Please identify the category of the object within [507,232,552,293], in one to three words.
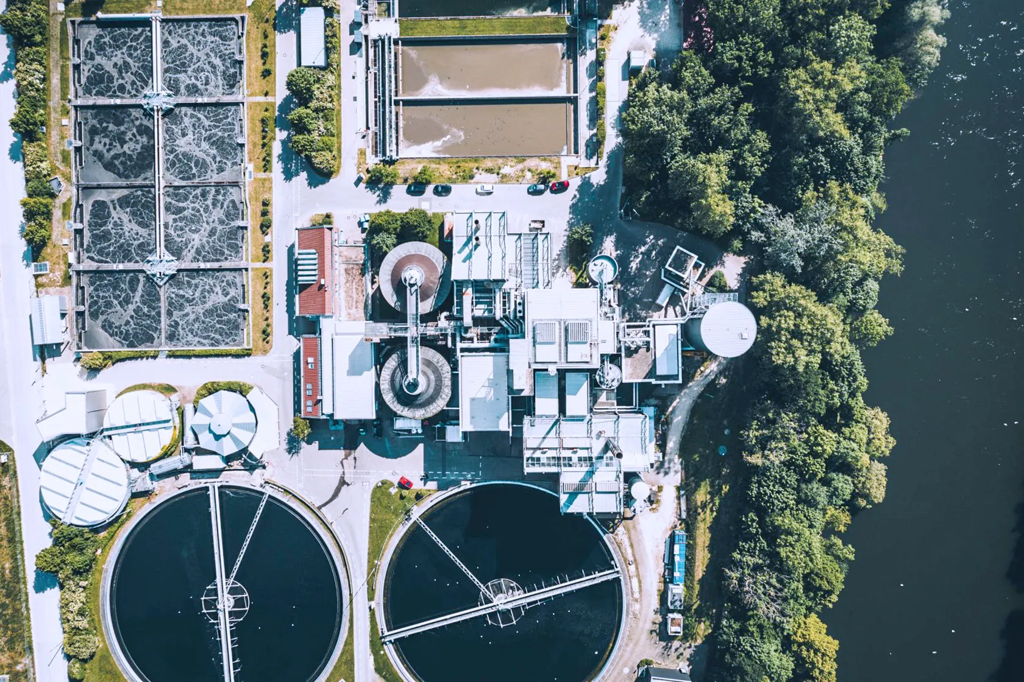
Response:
building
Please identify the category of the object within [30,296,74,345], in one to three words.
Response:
shed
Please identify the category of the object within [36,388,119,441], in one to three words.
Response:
shed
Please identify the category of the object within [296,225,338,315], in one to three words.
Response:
house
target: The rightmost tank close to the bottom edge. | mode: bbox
[379,479,625,682]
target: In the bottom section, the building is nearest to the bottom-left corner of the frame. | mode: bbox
[133,472,157,493]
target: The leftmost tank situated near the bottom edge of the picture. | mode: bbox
[103,475,351,682]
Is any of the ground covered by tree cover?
Yes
